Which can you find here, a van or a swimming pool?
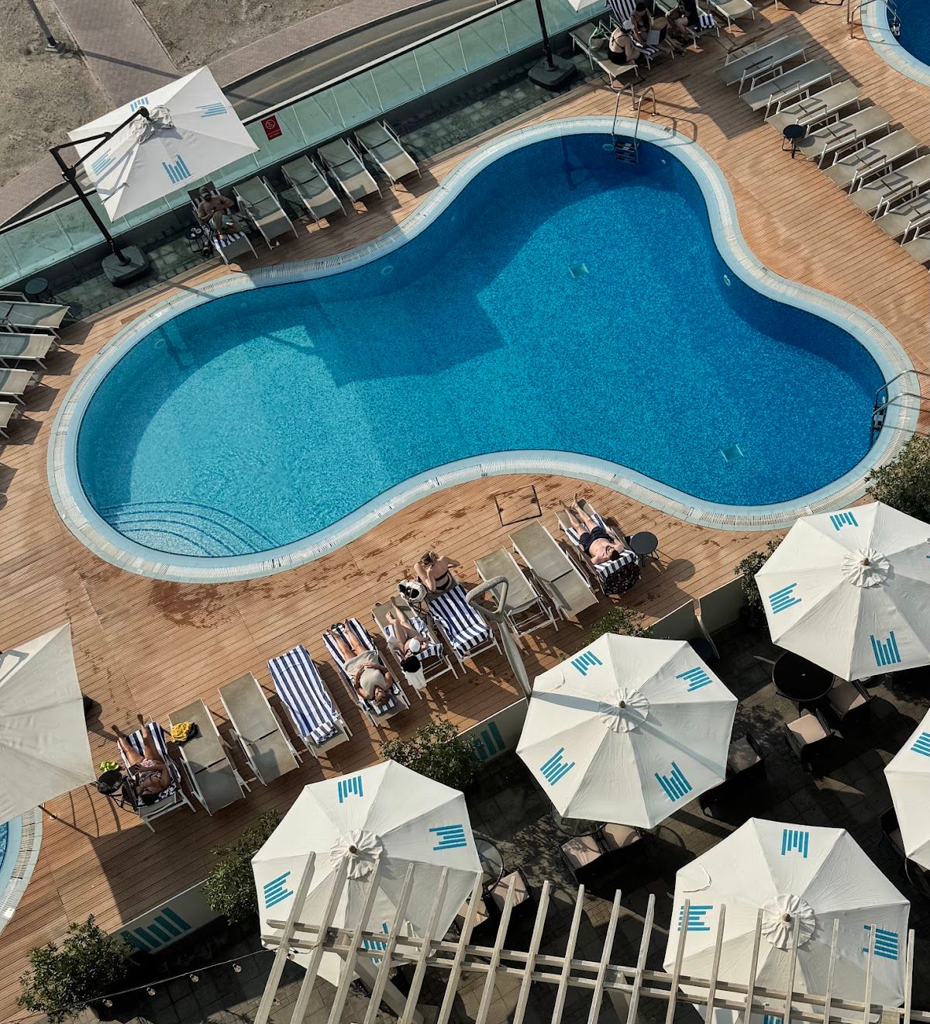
swimming pool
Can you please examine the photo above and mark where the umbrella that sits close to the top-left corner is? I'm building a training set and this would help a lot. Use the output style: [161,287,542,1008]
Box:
[56,70,264,278]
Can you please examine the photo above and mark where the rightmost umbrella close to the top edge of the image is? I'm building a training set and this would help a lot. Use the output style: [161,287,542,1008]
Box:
[527,0,618,85]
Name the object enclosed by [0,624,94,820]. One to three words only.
umbrella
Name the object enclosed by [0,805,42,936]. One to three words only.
swimming pool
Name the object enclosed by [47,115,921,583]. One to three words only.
swimming pool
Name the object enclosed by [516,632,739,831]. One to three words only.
umbrella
